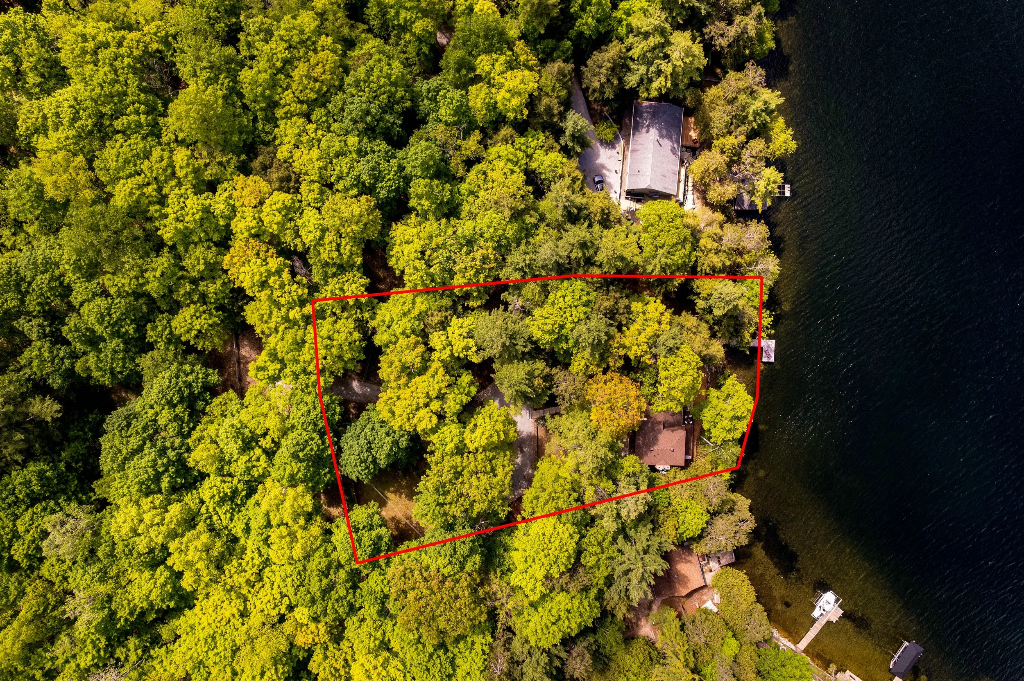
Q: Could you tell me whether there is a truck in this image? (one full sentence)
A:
No, no truck is visible in the scene.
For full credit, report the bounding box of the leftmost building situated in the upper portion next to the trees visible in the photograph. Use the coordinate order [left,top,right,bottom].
[623,100,684,207]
